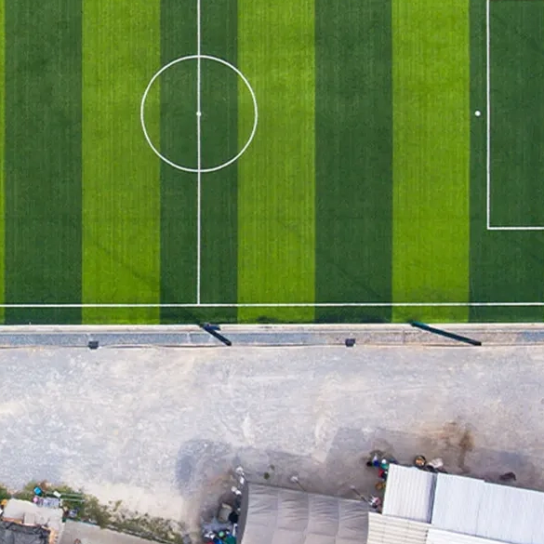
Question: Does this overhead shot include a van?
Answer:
No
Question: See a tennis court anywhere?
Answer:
No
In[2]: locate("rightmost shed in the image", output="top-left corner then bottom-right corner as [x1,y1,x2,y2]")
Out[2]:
[477,482,544,544]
